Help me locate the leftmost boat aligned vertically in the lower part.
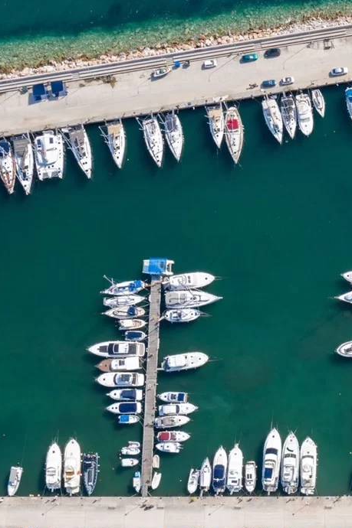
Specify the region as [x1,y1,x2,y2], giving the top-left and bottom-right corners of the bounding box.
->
[8,467,23,496]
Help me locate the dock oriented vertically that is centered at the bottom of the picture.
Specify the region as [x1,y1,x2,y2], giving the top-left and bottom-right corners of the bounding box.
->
[140,276,162,498]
